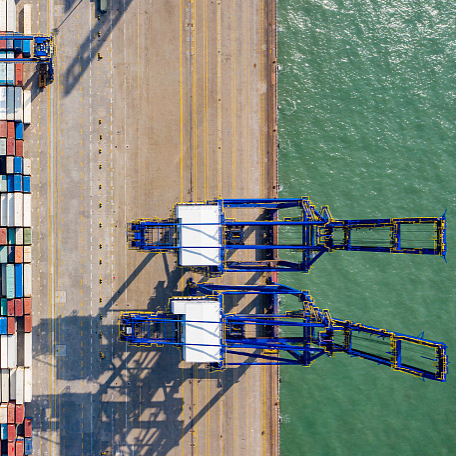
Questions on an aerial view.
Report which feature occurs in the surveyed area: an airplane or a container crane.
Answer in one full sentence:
It is a container crane that can be seen here.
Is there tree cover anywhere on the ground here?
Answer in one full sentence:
No, no tree cover is visible.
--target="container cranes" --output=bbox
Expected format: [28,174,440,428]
[0,34,56,87]
[123,194,453,280]
[112,271,453,389]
